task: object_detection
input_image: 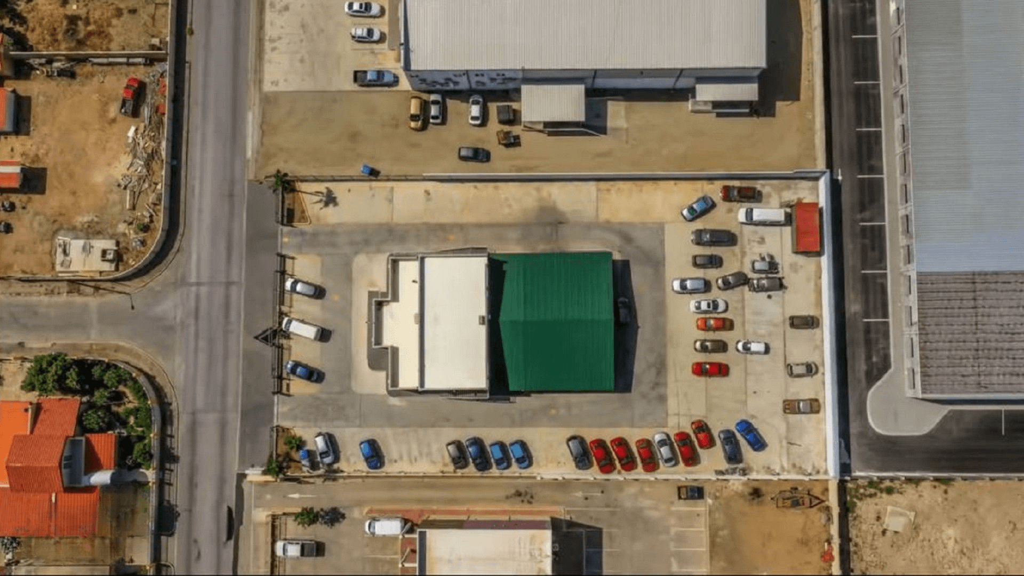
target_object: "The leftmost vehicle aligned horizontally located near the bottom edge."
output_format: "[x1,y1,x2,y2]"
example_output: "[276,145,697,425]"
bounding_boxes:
[276,540,317,559]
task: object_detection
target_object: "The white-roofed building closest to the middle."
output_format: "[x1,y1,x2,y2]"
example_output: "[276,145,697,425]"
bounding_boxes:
[372,254,493,390]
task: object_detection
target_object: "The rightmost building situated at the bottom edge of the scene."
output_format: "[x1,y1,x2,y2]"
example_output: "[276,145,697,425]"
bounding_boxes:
[417,513,552,576]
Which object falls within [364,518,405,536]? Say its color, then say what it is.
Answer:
white vehicle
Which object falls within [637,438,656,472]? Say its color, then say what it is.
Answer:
red car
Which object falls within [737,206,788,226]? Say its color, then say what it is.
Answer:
white vehicle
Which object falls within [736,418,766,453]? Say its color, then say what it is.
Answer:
blue car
